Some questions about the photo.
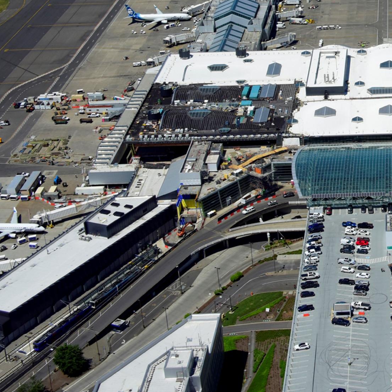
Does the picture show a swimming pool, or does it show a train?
train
